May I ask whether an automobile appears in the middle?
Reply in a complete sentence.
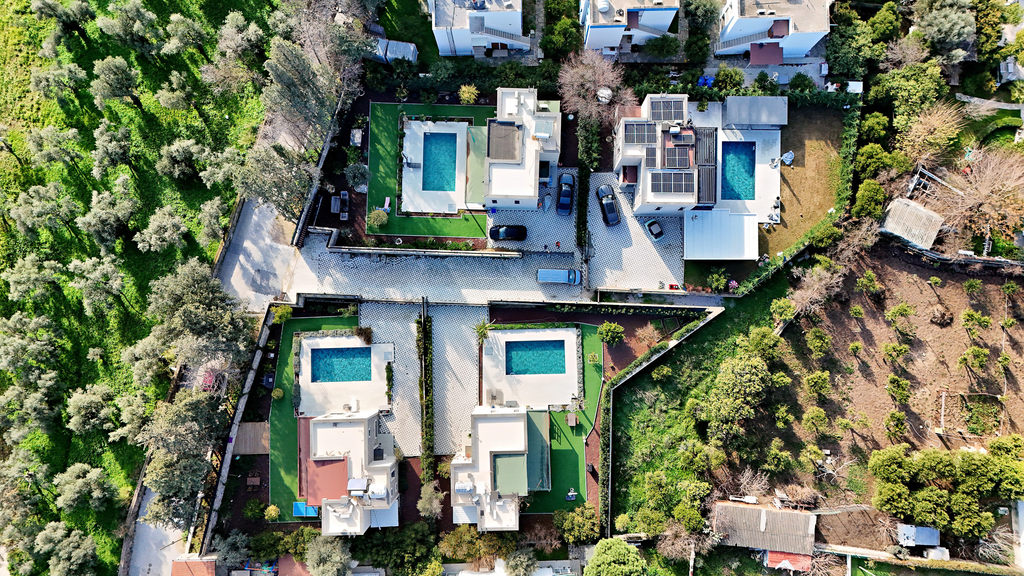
Yes, the scene does show an automobile in the middle.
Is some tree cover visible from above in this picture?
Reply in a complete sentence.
Yes, there is tree cover in the image.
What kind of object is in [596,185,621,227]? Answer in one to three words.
car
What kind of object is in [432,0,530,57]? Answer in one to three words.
house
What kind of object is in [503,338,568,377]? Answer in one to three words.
swimming pool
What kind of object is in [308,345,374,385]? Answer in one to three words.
swimming pool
